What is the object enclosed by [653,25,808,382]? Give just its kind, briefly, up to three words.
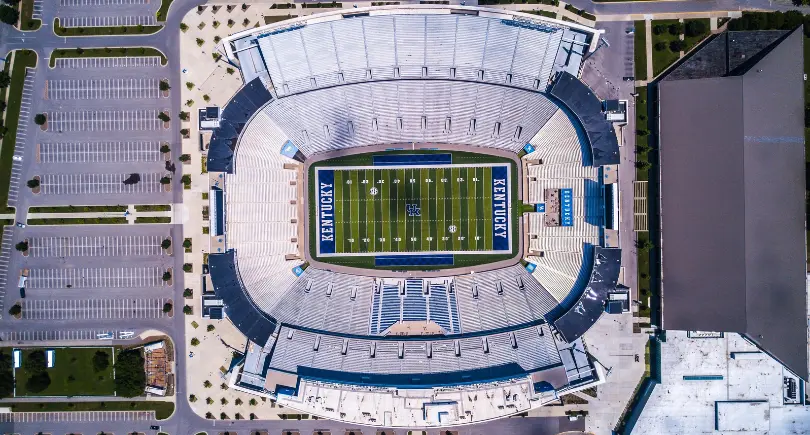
building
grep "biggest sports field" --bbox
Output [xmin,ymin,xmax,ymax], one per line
[309,149,520,269]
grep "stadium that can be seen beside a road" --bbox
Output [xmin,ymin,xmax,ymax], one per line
[197,4,632,429]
